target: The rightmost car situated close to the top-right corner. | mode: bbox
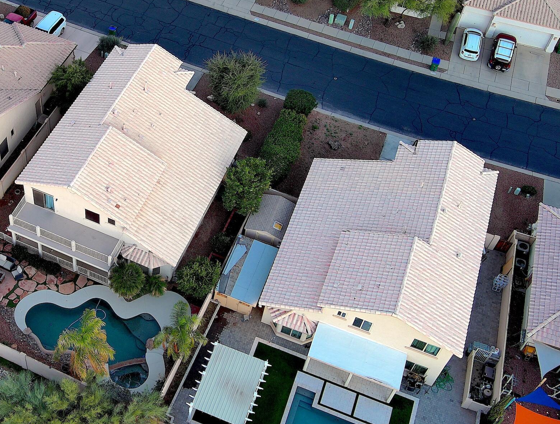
[485,34,519,77]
